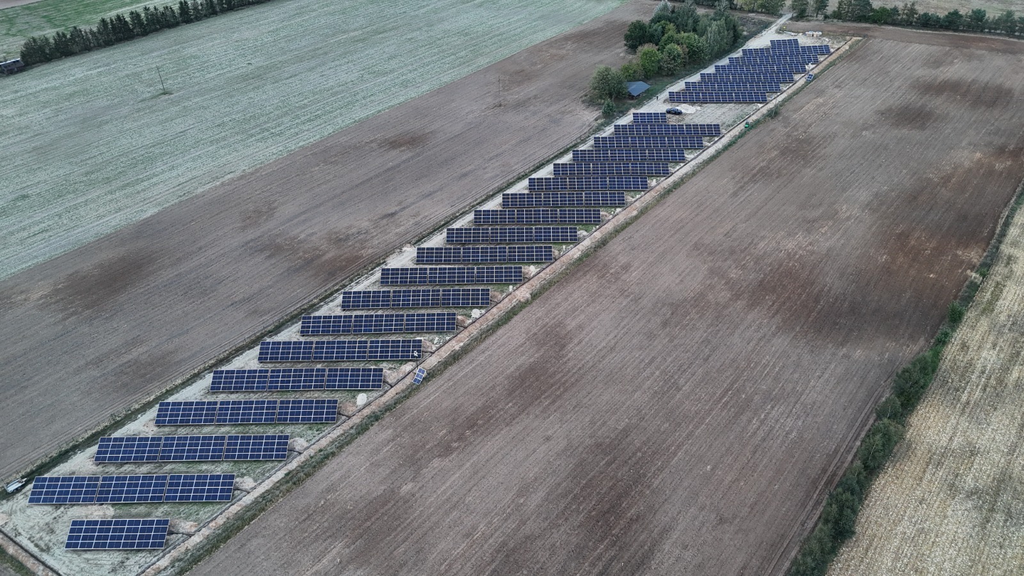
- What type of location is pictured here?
farmland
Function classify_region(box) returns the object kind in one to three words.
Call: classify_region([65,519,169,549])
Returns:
solar array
